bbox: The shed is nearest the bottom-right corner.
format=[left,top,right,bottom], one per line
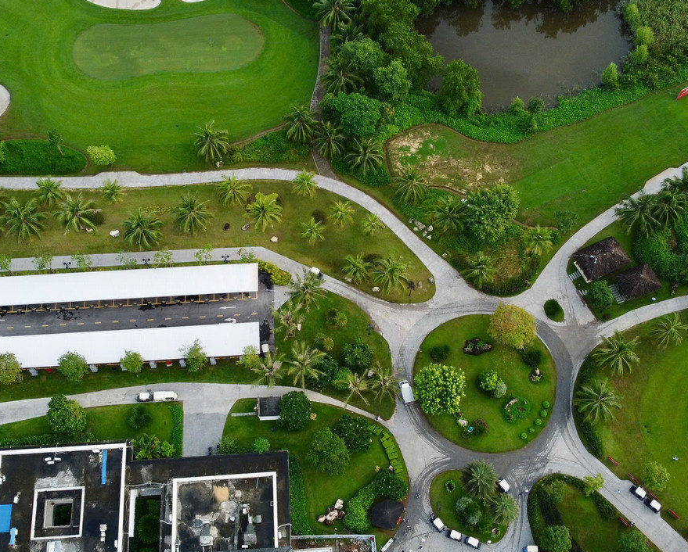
[617,263,661,300]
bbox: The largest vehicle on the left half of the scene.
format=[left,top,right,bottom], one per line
[152,390,180,403]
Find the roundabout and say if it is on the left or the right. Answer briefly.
right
